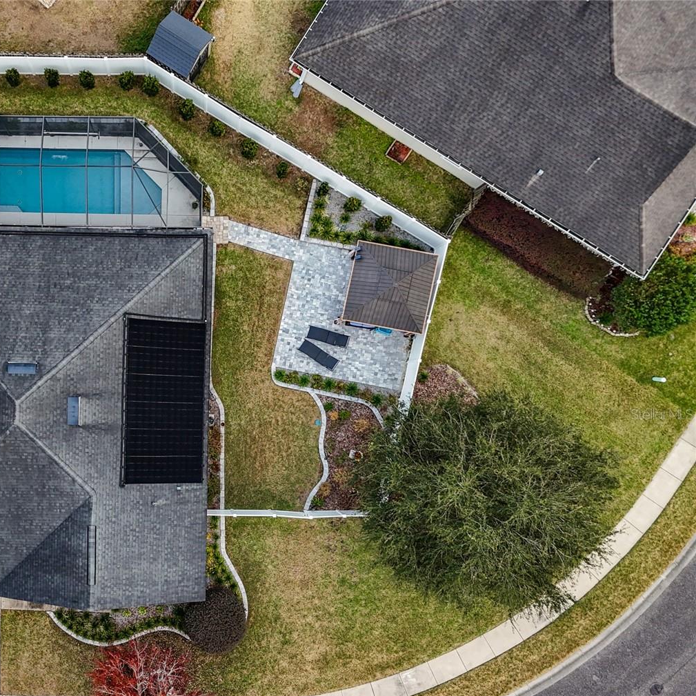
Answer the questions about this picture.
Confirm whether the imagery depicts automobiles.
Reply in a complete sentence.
No, no automobile can be seen from above.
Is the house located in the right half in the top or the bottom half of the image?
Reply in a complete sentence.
The house located in the right half sits in the top half of the picture.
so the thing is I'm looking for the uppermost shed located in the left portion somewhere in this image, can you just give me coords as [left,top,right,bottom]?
[147,6,215,78]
